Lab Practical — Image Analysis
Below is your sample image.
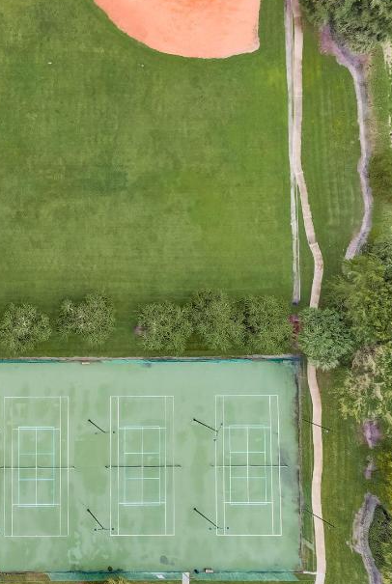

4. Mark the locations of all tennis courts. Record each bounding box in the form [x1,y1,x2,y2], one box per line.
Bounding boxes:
[208,383,289,547]
[0,384,76,548]
[104,383,182,547]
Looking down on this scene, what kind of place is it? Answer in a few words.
sports ground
